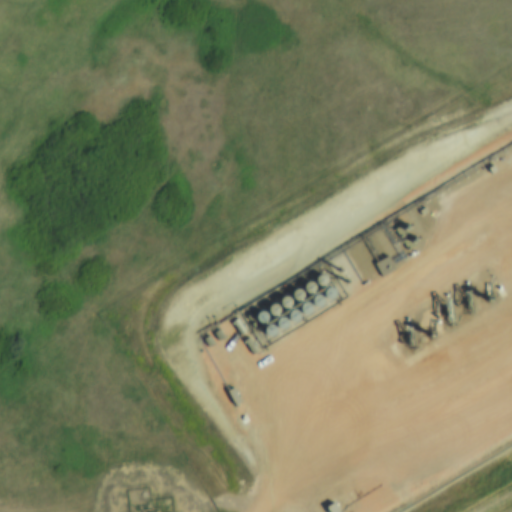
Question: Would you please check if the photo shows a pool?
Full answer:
No, the photo shows no pool.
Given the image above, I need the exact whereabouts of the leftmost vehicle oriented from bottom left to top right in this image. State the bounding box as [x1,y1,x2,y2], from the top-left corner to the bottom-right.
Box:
[226,336,240,352]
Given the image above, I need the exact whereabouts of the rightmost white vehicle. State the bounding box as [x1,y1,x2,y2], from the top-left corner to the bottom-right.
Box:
[258,355,275,368]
